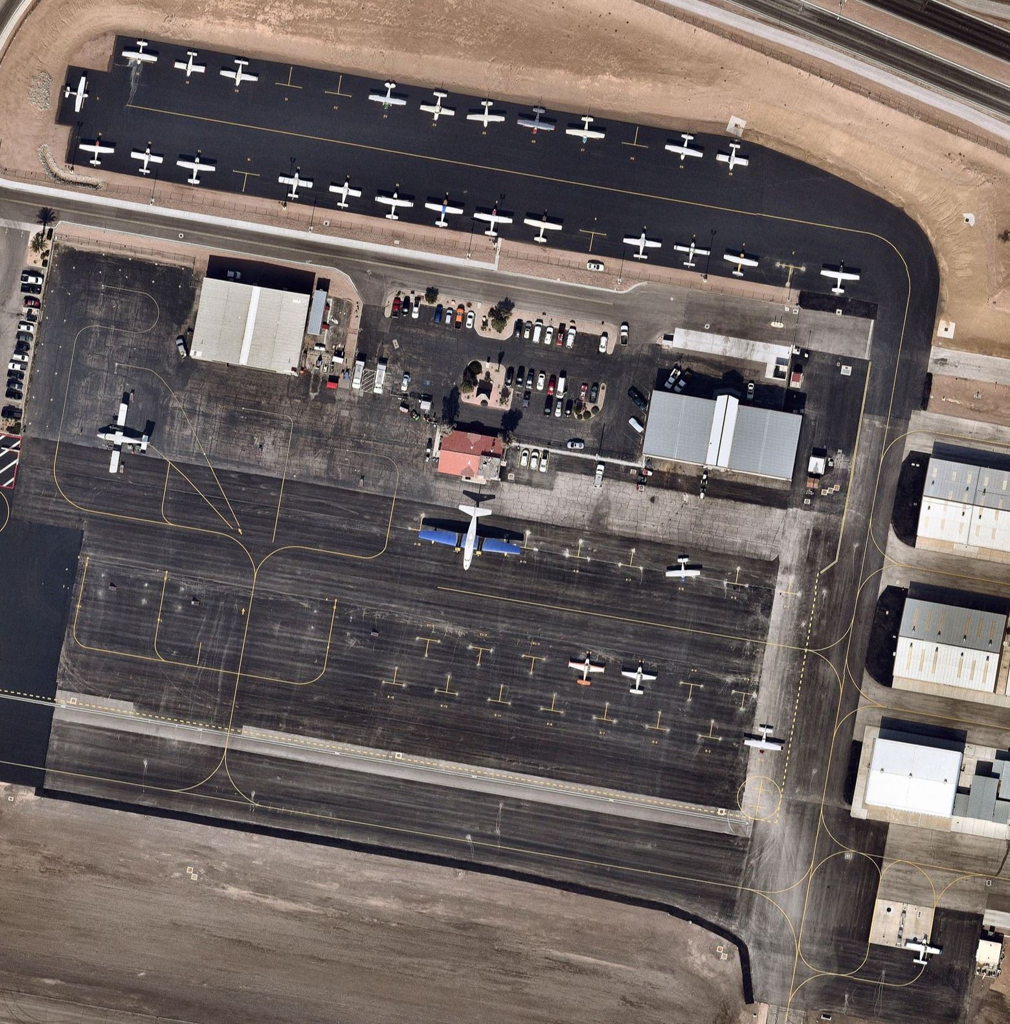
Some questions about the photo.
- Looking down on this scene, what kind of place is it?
airport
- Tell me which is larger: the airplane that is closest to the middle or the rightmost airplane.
the airplane that is closest to the middle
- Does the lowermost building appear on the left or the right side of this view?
right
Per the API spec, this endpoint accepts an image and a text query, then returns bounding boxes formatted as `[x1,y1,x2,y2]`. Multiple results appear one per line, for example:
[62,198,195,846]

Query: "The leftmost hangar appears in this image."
[189,276,313,377]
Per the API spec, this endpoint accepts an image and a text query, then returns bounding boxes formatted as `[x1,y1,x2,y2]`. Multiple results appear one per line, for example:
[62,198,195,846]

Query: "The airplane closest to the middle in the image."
[419,500,520,574]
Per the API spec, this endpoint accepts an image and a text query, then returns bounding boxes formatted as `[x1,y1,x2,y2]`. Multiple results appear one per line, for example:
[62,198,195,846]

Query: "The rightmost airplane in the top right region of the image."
[821,265,860,293]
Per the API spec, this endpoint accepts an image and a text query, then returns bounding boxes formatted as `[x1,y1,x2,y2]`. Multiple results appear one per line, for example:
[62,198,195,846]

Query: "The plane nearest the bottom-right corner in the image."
[906,939,942,965]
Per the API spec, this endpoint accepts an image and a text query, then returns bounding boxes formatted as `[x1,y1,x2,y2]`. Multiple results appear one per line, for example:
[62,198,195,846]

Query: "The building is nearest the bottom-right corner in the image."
[975,935,1002,979]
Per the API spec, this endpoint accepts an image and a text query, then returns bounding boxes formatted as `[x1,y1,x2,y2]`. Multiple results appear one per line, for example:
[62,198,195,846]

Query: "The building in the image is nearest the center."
[435,429,505,487]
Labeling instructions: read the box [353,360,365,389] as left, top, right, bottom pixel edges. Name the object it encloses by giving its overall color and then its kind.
white vehicle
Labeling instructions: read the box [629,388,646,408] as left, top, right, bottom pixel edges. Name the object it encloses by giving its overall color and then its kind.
black vehicle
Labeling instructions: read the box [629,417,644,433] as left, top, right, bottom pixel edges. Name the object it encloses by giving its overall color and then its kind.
white car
